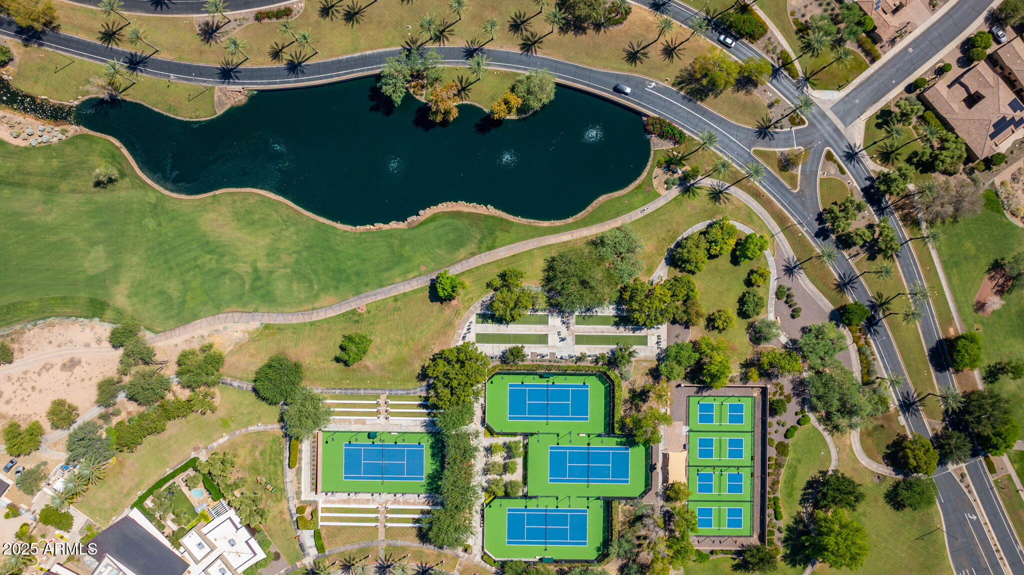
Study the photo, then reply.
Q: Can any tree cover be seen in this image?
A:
Yes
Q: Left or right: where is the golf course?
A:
left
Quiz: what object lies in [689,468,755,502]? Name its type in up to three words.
sports court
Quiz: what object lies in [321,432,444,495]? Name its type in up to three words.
tennis court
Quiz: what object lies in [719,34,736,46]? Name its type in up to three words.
vehicle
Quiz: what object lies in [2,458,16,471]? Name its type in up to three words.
vehicle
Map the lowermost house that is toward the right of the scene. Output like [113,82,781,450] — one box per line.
[926,56,1024,158]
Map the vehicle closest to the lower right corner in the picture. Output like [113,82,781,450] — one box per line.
[867,311,880,327]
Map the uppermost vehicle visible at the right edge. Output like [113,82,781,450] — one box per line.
[992,23,1009,43]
